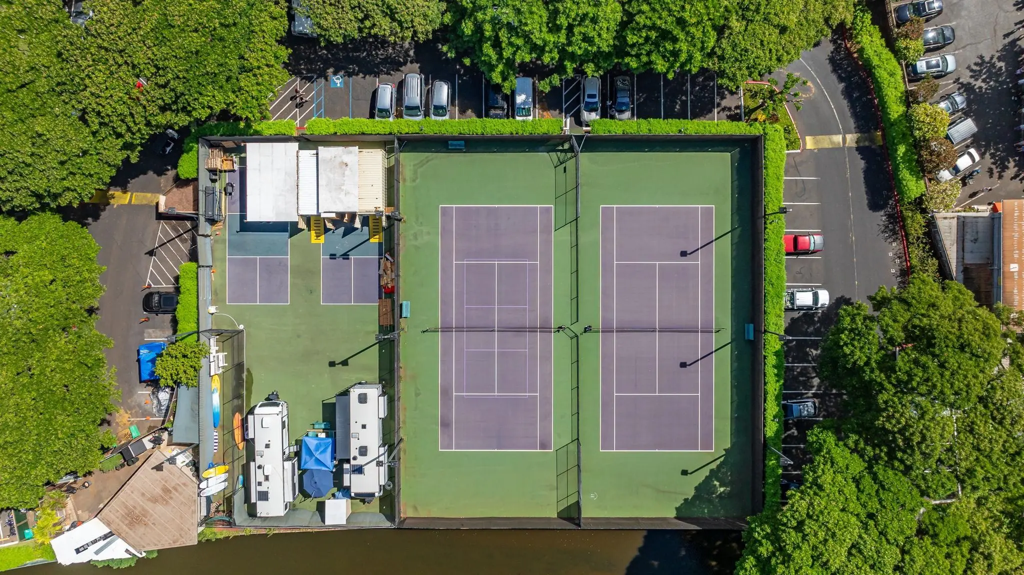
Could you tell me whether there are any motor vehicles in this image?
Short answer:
Yes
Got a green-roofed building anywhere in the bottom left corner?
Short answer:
No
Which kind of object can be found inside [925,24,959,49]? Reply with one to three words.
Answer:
car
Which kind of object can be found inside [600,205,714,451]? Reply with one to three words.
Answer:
tennis court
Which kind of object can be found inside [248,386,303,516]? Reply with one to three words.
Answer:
camper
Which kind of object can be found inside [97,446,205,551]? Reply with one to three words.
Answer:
building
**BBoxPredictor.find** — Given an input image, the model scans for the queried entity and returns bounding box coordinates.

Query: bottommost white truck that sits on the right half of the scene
[781,286,829,311]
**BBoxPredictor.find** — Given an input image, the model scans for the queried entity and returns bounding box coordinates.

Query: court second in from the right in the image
[440,205,553,451]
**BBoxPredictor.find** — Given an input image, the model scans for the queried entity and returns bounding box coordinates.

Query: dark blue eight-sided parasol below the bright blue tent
[303,469,333,497]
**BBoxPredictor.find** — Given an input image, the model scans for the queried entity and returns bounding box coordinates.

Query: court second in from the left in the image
[321,212,383,304]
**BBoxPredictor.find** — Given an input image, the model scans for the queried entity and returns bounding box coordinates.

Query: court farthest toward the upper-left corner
[227,166,289,304]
